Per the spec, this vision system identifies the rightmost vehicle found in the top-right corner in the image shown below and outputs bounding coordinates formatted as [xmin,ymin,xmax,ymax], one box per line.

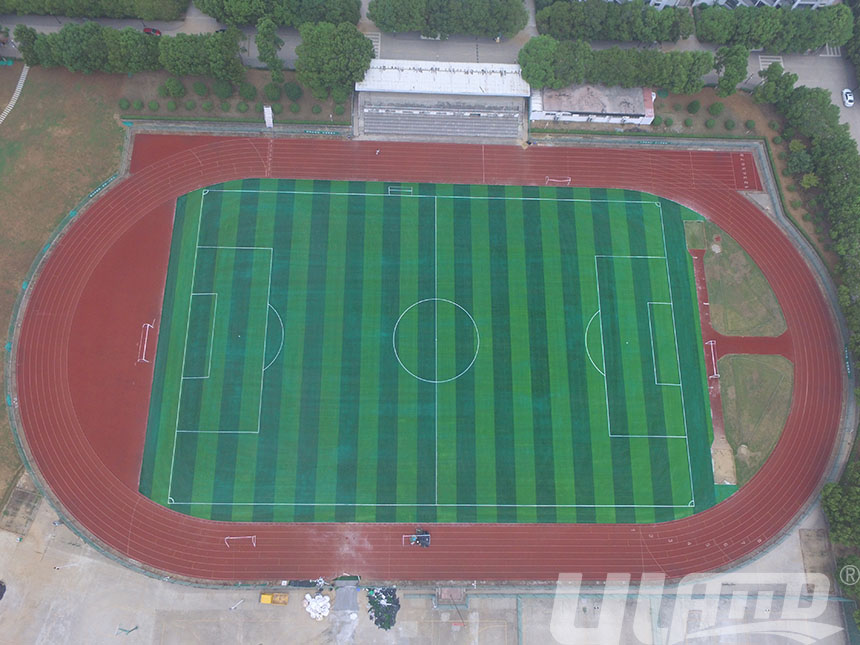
[841,89,855,108]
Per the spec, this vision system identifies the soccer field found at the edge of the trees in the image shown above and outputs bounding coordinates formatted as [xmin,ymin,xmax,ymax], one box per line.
[139,178,741,522]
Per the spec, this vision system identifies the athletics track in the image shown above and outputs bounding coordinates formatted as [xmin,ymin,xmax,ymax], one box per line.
[13,134,842,580]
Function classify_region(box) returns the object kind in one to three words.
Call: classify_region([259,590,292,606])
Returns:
vehicle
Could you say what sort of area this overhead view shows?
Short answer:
sports ground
